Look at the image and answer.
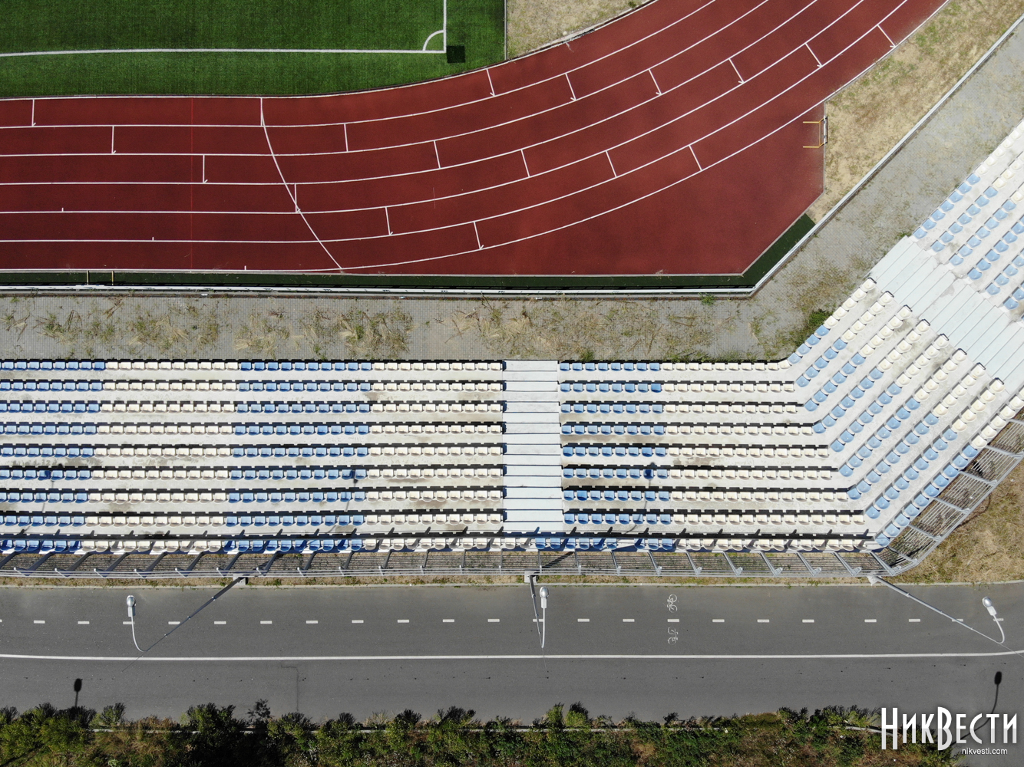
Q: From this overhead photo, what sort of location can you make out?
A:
sports ground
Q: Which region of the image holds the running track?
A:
top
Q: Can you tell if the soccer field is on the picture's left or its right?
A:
left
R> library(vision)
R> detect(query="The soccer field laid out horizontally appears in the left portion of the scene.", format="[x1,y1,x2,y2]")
[0,0,508,94]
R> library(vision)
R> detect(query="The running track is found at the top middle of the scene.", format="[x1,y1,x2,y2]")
[0,0,956,277]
